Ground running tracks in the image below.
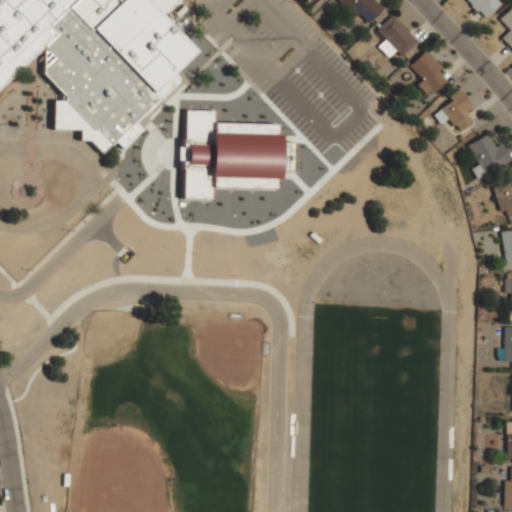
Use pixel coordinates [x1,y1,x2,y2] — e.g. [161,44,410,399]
[292,236,457,512]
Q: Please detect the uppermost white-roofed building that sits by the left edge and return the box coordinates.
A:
[0,0,202,154]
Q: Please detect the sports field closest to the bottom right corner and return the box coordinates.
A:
[308,302,442,512]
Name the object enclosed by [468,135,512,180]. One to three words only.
house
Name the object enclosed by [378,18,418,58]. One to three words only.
house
